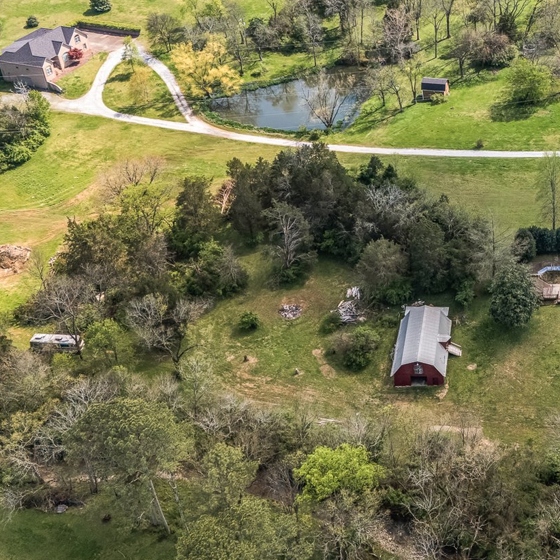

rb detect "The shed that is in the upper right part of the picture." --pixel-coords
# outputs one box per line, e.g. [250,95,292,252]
[422,84,446,101]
